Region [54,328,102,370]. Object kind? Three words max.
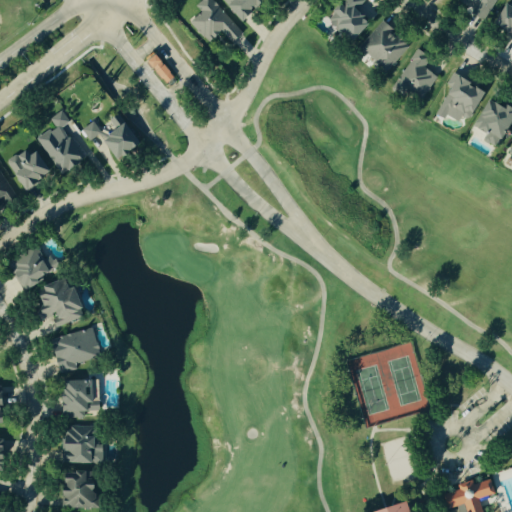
house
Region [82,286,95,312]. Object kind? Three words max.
swimming pool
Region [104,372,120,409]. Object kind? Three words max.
swimming pool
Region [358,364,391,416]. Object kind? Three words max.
tennis court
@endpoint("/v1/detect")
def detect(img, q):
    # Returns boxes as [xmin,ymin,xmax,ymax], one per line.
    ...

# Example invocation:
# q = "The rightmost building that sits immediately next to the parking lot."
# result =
[446,476,500,512]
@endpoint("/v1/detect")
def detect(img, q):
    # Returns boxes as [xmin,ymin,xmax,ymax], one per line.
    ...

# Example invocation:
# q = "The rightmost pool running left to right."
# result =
[434,115,465,129]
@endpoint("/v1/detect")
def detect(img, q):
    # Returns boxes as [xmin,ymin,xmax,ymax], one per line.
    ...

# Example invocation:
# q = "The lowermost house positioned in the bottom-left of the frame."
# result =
[57,468,98,512]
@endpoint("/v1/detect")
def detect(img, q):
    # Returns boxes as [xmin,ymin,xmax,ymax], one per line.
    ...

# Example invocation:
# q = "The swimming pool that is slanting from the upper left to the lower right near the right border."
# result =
[468,132,495,157]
